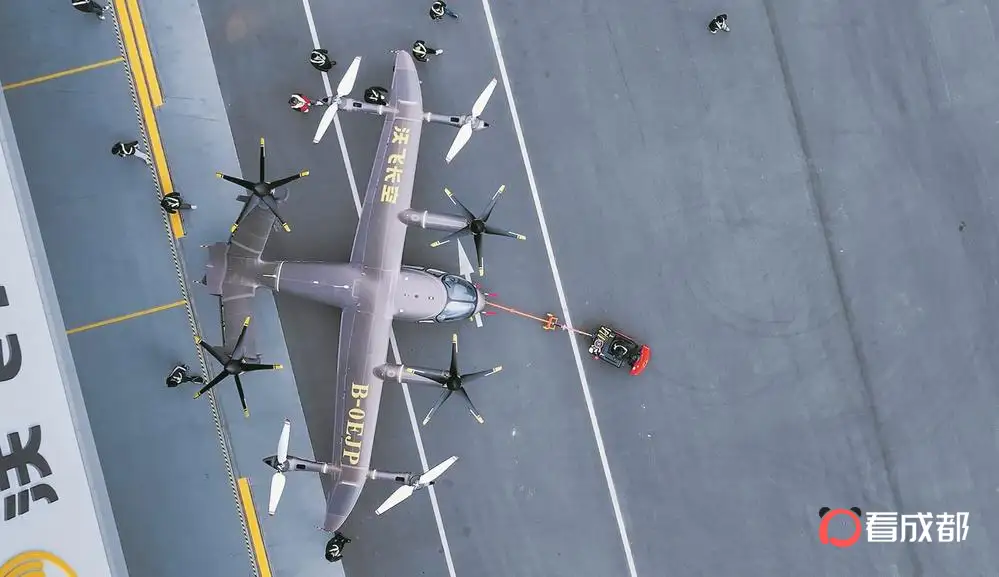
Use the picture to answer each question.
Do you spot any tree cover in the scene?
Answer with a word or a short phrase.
No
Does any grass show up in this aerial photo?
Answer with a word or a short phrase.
No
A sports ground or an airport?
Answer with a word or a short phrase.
airport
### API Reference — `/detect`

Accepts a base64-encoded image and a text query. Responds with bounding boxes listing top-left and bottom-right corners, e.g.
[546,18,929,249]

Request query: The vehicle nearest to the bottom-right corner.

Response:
[589,325,644,374]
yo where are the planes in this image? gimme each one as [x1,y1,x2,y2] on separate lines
[190,48,524,529]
